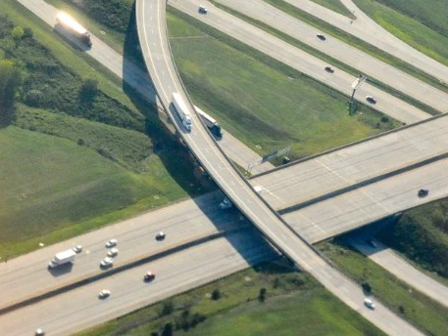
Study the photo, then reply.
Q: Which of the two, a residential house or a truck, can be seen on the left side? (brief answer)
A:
truck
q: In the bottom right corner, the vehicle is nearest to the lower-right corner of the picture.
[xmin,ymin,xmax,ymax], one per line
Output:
[361,295,377,308]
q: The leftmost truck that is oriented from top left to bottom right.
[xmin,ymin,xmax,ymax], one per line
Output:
[54,12,92,47]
